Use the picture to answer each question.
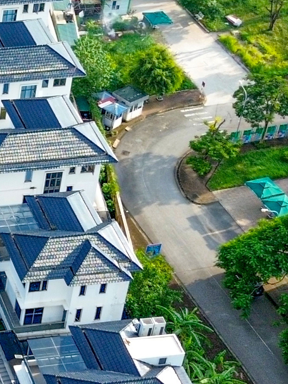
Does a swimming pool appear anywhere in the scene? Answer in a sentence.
No, no swimming pool is visible in the view.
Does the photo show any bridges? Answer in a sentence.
No, I can see no bridge in this picture.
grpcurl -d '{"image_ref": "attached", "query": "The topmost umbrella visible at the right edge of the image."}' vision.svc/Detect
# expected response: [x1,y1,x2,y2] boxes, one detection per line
[243,177,287,206]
